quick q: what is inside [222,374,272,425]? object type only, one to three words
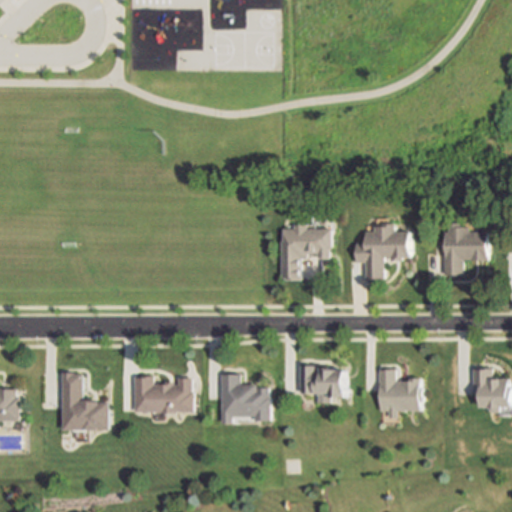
house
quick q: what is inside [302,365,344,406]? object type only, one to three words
house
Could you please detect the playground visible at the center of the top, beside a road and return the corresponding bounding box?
[131,0,282,72]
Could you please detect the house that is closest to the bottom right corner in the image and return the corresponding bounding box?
[473,368,512,414]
